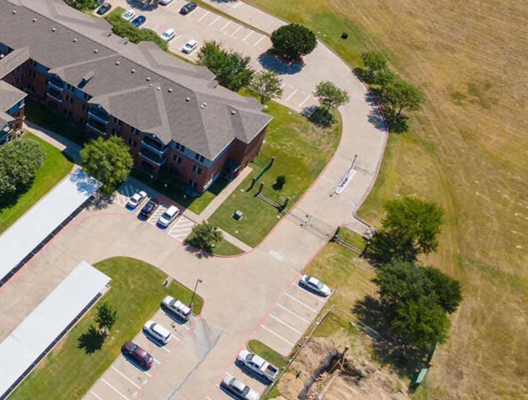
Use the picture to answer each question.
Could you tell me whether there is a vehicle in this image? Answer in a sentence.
Yes, there is a vehicle in the image.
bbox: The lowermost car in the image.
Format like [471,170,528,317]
[223,377,259,400]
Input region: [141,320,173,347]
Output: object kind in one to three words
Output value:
car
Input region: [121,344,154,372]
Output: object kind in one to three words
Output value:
car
